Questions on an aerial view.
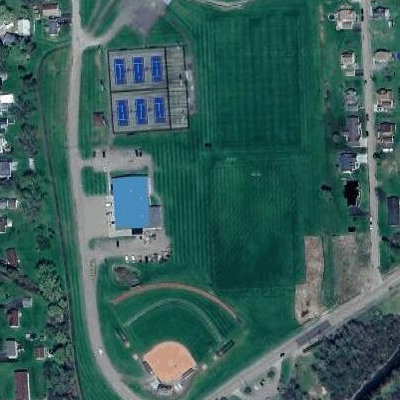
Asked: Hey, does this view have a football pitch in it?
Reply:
Yes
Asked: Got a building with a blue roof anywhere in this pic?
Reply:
Yes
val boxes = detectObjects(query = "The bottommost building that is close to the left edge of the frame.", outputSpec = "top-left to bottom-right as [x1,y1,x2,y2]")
[15,371,30,400]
